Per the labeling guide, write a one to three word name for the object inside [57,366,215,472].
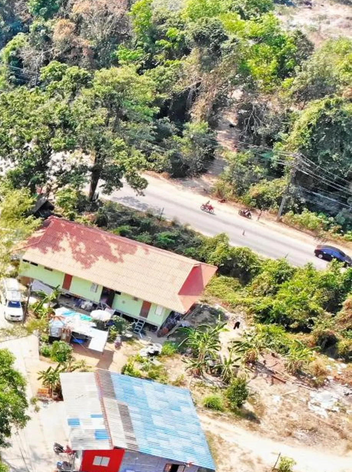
house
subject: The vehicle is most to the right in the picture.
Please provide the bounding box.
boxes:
[312,242,352,267]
